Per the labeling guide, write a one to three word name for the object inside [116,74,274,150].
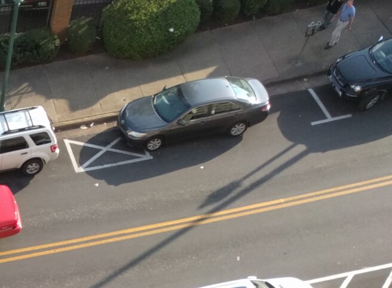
car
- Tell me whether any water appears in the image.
No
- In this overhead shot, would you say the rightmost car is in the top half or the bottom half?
top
